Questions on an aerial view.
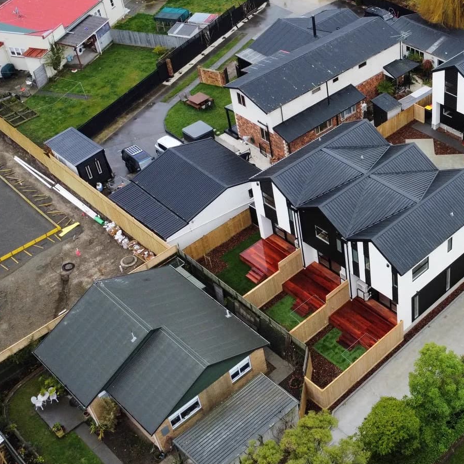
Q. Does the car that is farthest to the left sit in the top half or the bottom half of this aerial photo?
top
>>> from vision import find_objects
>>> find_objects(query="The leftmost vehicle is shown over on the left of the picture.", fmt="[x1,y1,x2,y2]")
[109,132,159,176]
